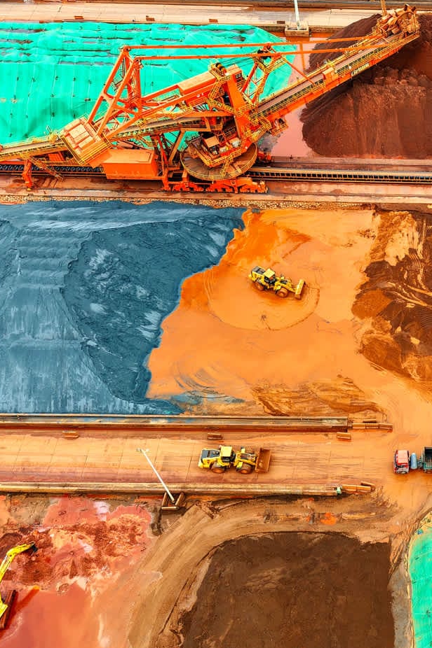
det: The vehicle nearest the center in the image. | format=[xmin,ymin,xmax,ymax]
[244,269,304,302]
